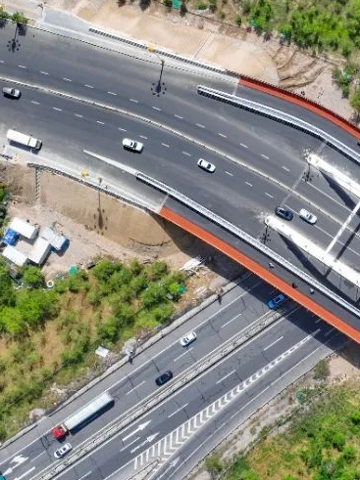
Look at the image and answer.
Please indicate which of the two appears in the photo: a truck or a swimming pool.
truck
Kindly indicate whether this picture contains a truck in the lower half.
Yes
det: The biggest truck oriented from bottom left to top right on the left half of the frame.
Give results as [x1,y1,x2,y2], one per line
[52,391,114,440]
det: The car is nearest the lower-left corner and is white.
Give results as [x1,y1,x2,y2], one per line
[52,443,71,459]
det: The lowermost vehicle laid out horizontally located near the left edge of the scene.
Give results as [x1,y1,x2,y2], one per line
[0,130,42,148]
